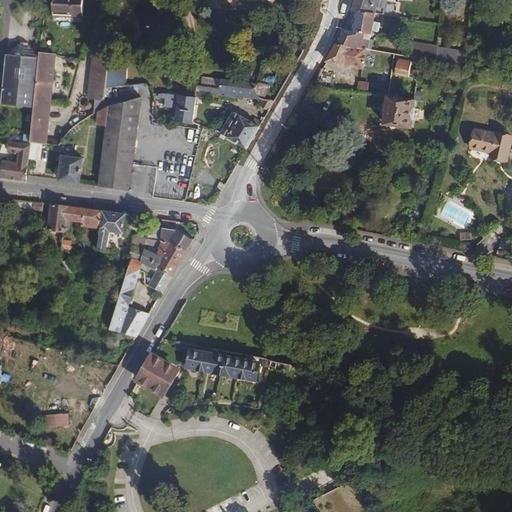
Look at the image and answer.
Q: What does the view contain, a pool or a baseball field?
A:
pool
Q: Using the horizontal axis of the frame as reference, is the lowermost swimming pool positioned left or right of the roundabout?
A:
to its right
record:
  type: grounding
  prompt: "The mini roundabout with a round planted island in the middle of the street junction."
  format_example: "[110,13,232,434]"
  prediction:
[190,169,298,279]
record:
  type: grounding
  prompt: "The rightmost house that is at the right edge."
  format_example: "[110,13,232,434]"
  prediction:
[470,127,512,163]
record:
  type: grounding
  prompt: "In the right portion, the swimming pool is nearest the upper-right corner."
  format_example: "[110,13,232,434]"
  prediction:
[435,197,474,228]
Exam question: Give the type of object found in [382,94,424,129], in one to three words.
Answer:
house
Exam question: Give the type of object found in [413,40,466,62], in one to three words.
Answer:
building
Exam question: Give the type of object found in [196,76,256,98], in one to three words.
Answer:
house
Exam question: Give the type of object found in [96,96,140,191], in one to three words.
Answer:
barn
